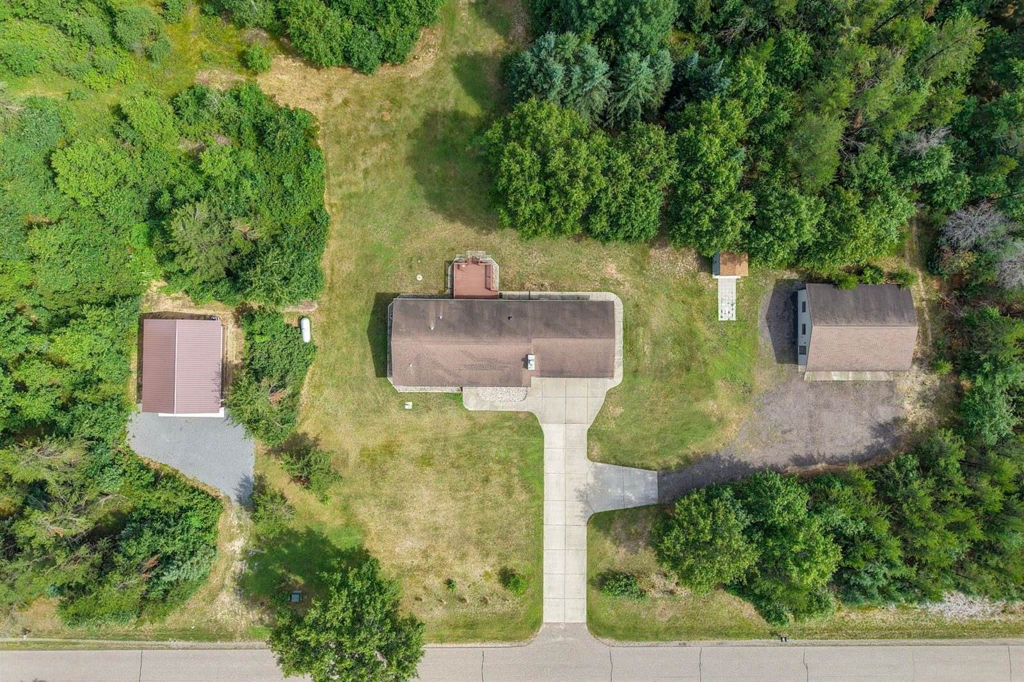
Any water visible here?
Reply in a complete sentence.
No, there's no water in this view.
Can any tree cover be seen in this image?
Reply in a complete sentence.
Yes, tree cover can be seen from above here.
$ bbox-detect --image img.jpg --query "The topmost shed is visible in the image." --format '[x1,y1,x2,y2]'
[713,250,748,278]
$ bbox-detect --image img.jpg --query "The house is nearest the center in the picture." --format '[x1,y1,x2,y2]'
[390,298,617,388]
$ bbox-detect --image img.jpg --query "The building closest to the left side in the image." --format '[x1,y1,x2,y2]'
[142,319,231,414]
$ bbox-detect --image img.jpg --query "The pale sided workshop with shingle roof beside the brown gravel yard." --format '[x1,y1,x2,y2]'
[798,284,920,371]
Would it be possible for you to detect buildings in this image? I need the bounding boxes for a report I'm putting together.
[142,319,231,414]
[798,284,920,371]
[390,298,617,388]
[713,250,748,278]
